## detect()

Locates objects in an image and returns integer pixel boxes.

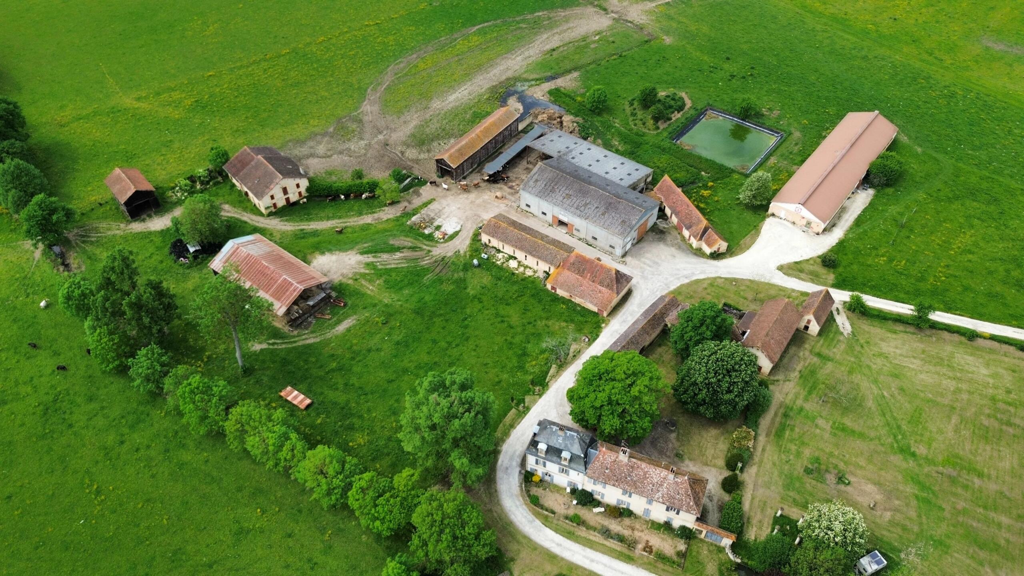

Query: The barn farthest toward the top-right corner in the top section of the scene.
[770,110,898,233]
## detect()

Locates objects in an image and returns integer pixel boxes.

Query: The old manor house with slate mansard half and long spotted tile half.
[524,415,711,527]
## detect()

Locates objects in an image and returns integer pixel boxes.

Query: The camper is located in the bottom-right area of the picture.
[854,550,888,576]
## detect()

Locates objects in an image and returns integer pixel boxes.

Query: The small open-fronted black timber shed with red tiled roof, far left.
[105,167,161,219]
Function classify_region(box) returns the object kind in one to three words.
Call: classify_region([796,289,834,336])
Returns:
building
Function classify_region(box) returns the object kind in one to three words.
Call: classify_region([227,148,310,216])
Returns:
house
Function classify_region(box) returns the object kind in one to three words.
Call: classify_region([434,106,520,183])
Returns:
barn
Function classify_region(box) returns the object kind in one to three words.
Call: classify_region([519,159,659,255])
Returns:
barn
